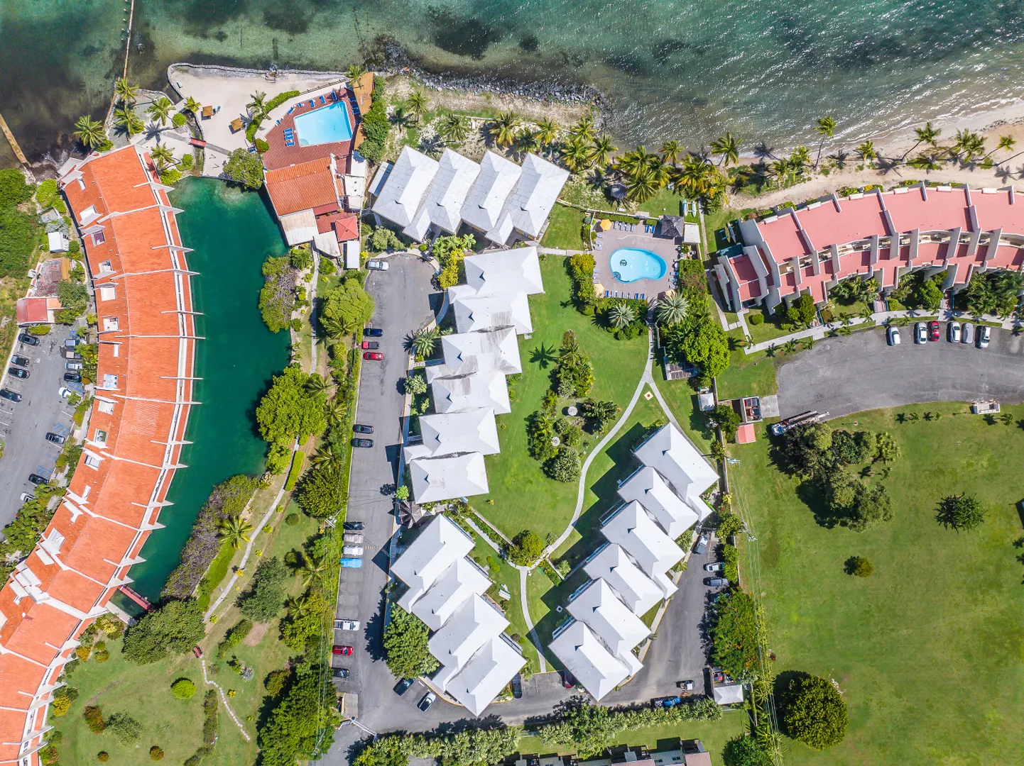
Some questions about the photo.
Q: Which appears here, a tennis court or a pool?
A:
pool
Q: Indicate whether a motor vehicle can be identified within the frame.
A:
Yes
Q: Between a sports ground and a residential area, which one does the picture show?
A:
residential area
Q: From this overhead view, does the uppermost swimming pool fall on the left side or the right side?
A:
left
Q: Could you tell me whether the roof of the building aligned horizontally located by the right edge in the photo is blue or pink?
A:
pink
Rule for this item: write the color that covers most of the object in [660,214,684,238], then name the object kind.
gray gazebo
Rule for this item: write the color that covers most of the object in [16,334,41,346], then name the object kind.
black vehicle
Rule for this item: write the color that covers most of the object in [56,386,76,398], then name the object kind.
white vehicle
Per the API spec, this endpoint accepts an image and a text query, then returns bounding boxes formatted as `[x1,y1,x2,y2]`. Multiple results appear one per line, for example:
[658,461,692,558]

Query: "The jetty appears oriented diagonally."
[0,115,33,165]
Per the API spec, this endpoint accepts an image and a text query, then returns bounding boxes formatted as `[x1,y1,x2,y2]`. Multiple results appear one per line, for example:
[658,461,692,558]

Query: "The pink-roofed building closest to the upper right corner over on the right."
[714,180,1024,320]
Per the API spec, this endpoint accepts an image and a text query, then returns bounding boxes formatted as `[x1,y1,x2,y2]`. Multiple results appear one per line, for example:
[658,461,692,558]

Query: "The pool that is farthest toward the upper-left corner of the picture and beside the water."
[252,76,360,177]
